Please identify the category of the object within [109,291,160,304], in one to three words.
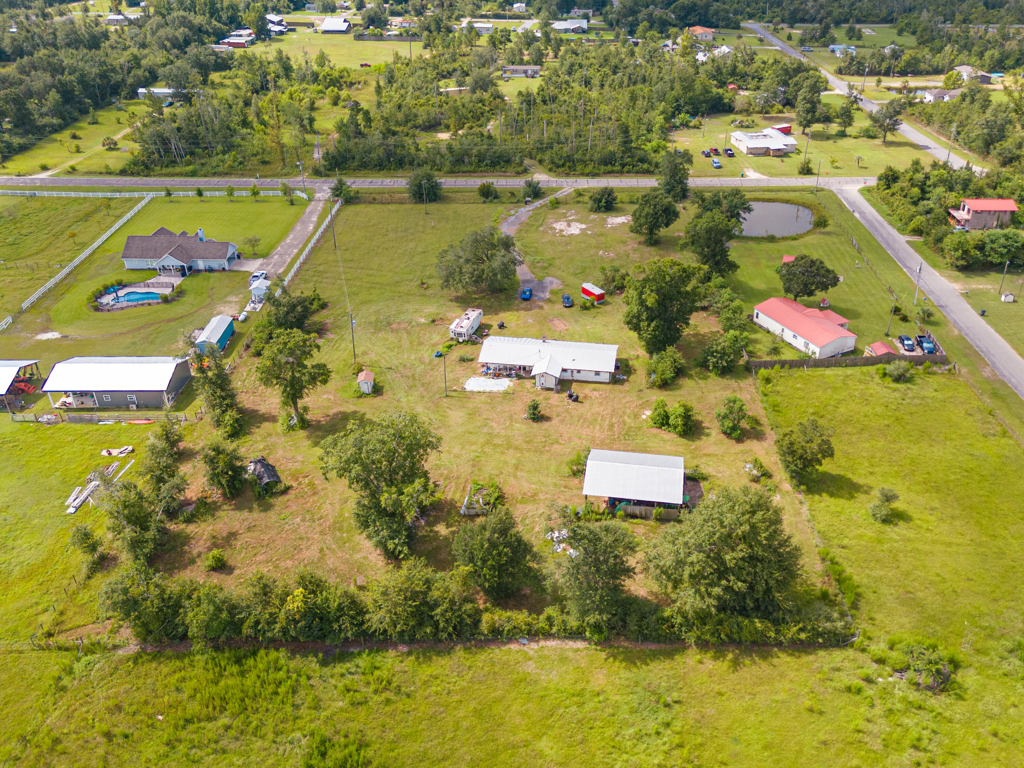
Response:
swimming pool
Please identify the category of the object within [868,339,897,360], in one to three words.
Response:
shed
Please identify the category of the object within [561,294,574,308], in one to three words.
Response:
vehicle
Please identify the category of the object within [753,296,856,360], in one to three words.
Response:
house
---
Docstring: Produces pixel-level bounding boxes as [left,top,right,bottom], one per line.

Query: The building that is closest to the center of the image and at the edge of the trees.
[478,336,615,386]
